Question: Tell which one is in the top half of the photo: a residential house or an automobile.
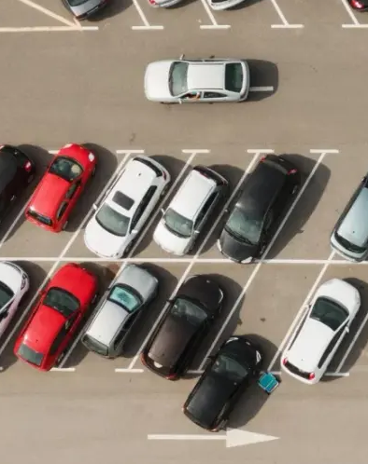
automobile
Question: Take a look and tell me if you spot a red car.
Yes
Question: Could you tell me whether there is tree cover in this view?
No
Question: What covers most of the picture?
paved ground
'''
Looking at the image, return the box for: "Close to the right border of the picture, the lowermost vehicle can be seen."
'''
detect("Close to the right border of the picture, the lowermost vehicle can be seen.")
[281,280,356,383]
